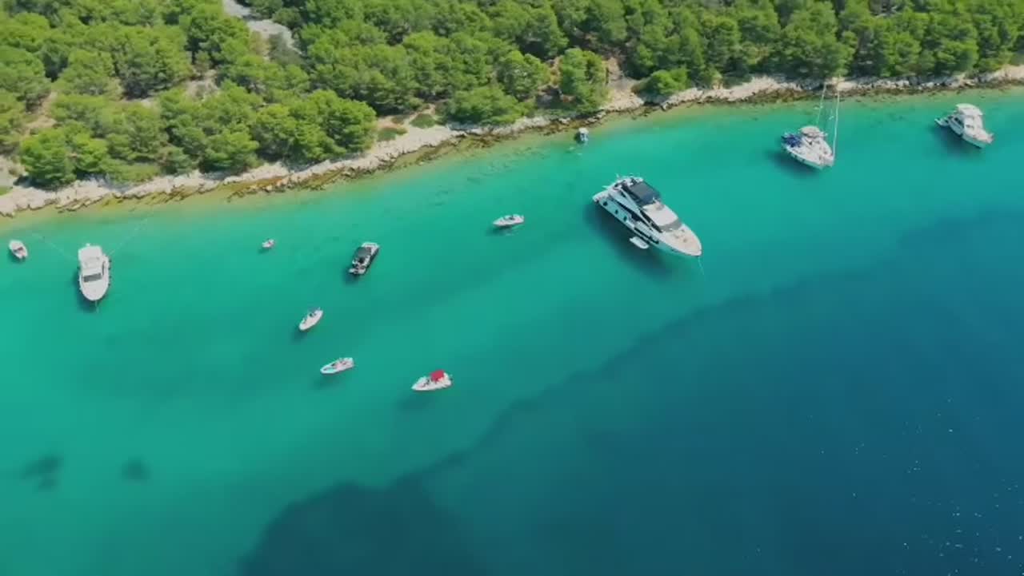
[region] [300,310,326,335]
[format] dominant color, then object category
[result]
white boat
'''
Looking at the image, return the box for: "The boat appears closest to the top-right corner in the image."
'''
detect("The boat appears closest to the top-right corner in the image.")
[930,107,989,149]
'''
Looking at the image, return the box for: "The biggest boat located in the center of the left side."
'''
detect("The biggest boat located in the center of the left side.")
[78,239,113,302]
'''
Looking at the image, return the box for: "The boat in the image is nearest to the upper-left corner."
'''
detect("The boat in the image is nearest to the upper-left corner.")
[10,242,32,264]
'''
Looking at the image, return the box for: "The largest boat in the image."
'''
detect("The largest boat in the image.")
[589,174,701,262]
